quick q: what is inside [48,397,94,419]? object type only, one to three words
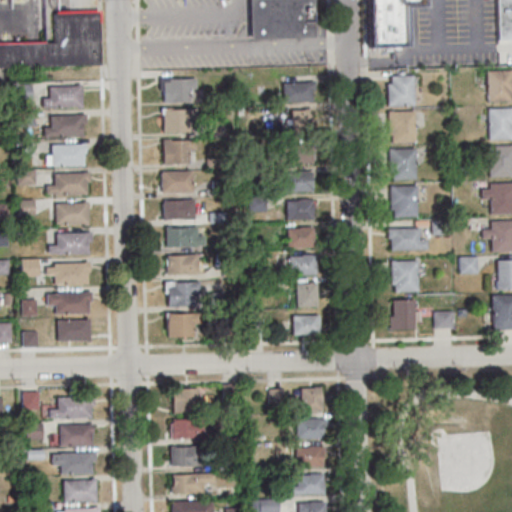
house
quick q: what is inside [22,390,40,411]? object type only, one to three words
building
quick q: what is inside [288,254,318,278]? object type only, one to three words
house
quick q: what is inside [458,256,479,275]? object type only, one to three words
building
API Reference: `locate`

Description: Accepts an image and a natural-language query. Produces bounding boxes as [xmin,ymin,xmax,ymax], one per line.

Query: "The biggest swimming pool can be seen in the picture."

[472,240,487,254]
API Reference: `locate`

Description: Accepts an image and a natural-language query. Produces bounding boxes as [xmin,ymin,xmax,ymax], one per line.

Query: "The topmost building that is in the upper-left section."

[0,10,102,68]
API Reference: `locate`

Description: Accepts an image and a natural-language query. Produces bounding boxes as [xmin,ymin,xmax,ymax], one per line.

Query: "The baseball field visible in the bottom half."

[430,428,494,494]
